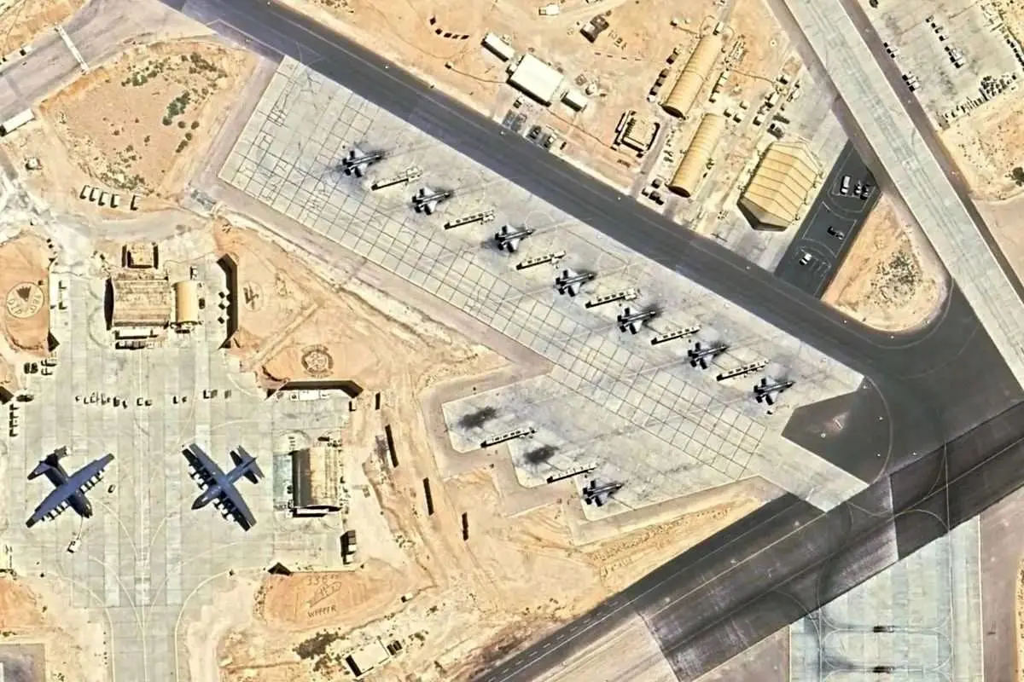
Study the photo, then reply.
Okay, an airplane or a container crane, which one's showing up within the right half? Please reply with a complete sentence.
Visible within the right half is an airplane.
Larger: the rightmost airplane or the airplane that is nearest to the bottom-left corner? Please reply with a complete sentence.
The airplane that is nearest to the bottom-left corner takes up more space than the rightmost airplane does.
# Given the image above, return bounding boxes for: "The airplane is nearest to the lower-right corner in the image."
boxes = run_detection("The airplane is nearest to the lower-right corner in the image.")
[752,378,791,405]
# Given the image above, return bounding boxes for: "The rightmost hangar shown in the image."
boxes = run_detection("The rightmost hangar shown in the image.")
[740,142,824,229]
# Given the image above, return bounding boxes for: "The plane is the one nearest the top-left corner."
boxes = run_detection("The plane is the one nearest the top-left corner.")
[341,150,381,176]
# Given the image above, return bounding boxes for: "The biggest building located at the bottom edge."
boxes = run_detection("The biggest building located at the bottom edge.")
[350,640,389,674]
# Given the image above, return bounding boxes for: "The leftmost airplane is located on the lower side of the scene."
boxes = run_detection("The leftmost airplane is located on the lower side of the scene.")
[34,443,120,523]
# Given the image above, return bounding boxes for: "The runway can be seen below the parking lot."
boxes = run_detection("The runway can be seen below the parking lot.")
[471,400,1024,682]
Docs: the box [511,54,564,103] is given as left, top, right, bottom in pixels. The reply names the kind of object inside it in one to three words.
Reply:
shed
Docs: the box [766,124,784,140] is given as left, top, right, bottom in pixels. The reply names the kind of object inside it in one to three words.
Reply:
vehicle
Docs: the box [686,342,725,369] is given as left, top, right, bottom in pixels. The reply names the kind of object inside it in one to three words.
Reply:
airplane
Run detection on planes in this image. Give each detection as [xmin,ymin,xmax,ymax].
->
[555,270,594,296]
[341,150,381,176]
[493,225,533,252]
[410,188,450,214]
[686,342,725,369]
[616,308,656,334]
[582,479,621,506]
[183,444,267,529]
[34,443,120,523]
[752,378,791,405]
